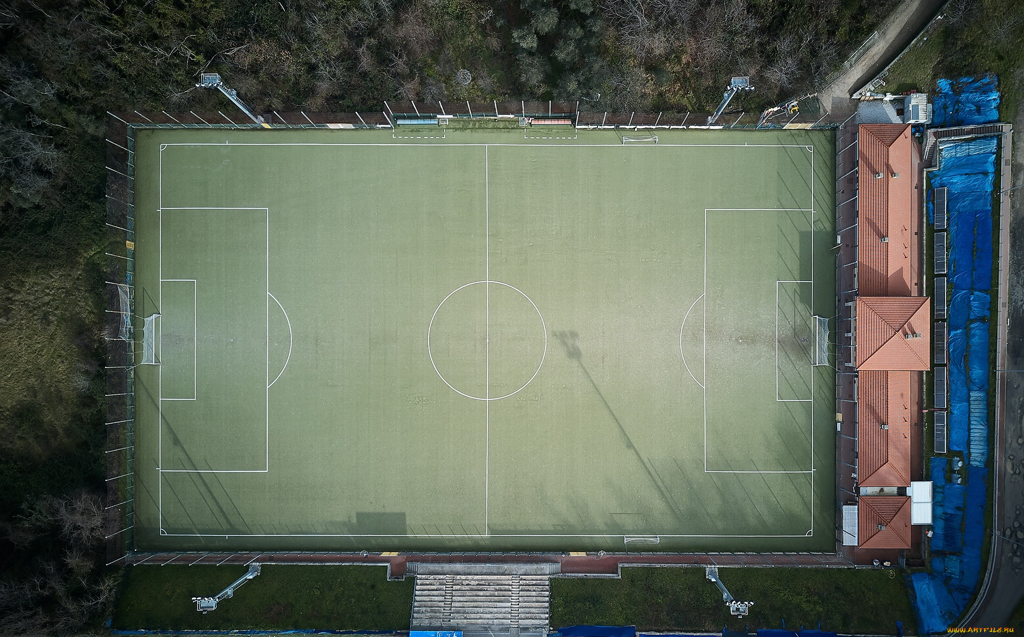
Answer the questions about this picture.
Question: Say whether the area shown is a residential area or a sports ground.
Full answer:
It's a sports ground.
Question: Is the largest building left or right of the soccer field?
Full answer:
Looking at the photo, the largest building lies to the right of the soccer field.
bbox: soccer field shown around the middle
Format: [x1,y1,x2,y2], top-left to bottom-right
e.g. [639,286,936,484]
[134,117,837,551]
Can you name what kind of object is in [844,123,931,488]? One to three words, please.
building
